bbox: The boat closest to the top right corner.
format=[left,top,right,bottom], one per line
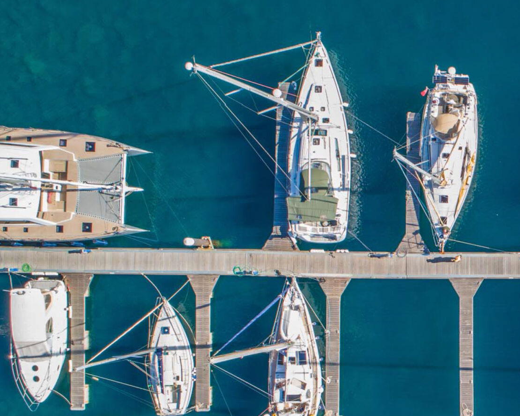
[389,65,479,253]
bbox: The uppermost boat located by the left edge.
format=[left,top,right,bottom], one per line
[0,126,152,243]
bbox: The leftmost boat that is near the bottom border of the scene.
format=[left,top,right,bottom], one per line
[2,277,72,407]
